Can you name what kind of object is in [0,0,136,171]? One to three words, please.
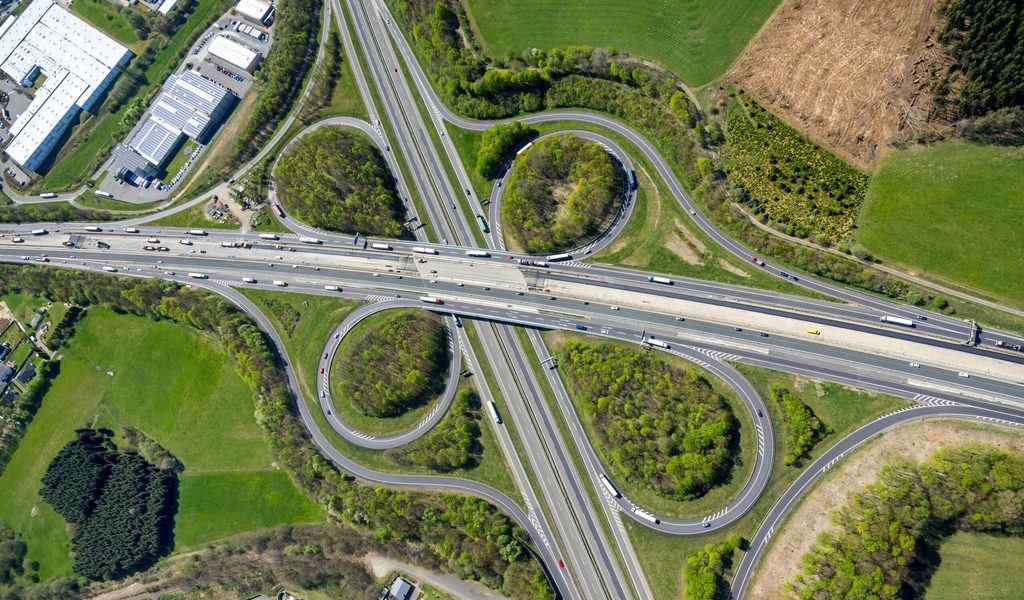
building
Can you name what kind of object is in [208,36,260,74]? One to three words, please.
building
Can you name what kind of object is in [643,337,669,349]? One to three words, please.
vehicle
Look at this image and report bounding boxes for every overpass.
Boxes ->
[412,242,551,334]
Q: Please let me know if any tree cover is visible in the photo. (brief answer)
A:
Yes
